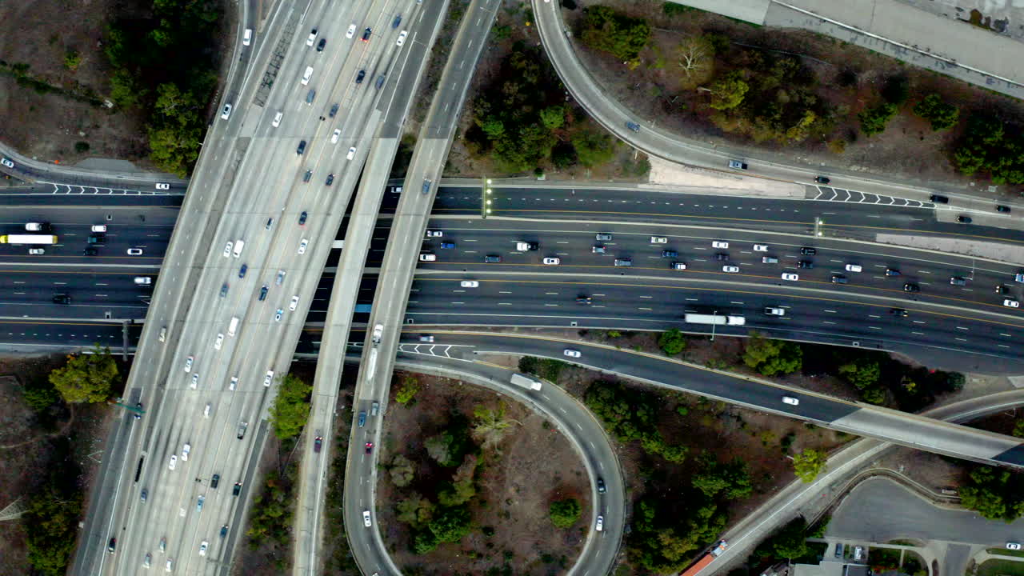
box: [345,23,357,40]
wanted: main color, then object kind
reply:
white vehicle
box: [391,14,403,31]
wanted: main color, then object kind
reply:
blue vehicle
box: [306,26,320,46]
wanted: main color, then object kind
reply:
white vehicle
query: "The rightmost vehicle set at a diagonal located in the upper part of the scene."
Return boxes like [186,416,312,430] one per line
[623,119,642,134]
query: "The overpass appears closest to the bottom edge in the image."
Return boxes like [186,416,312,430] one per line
[846,399,998,460]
